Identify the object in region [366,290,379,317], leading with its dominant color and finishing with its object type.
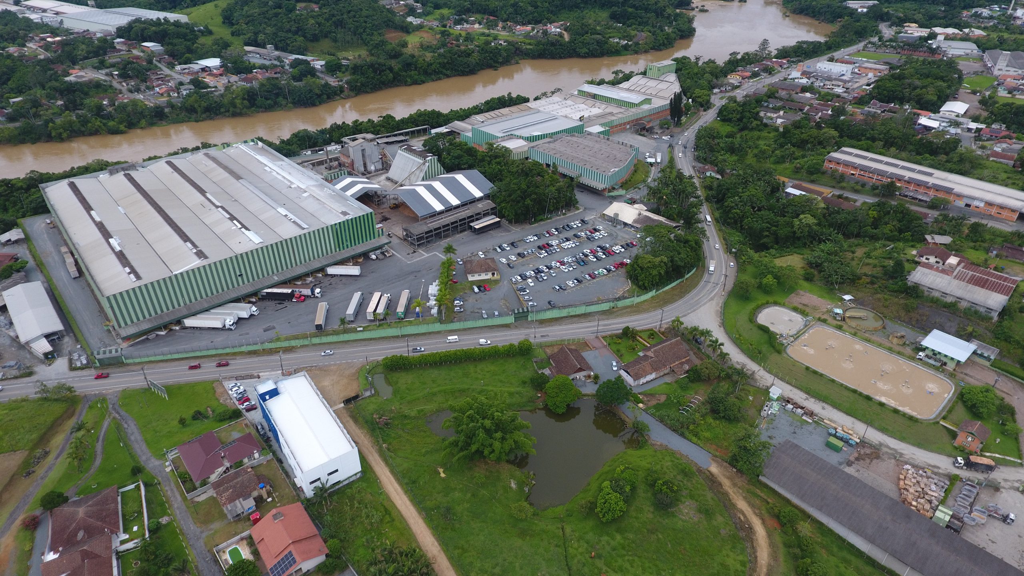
white vehicle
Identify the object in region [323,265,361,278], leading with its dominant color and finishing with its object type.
white vehicle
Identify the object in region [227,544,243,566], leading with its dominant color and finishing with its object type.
green swimming pool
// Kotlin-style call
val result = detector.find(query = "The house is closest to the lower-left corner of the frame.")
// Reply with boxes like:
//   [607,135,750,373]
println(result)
[42,480,133,576]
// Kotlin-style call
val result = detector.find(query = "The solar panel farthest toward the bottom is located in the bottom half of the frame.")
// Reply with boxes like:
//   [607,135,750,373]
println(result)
[267,551,294,576]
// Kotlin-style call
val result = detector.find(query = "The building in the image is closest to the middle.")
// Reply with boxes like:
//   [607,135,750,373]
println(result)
[460,259,504,284]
